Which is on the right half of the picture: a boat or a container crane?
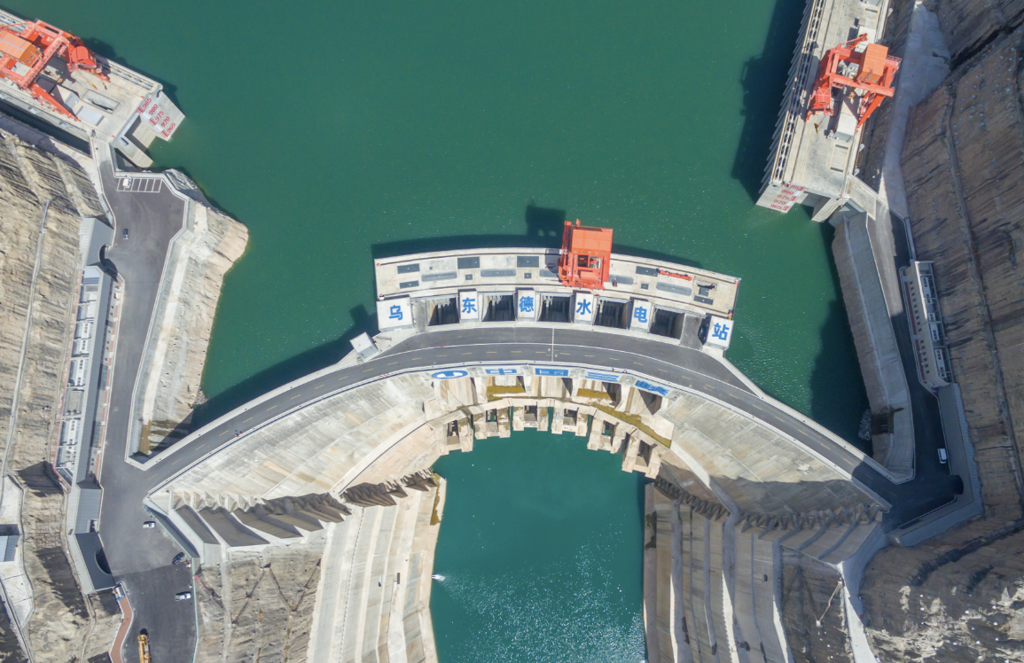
container crane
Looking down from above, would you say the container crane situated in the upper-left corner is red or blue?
red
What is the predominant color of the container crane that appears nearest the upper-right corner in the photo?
red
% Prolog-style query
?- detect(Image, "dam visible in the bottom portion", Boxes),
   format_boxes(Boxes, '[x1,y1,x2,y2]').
[140,247,900,579]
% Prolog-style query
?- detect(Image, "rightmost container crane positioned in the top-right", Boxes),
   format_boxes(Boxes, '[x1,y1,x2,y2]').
[806,27,902,131]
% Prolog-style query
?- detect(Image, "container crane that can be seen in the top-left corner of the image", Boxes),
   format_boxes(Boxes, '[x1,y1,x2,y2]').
[0,15,112,119]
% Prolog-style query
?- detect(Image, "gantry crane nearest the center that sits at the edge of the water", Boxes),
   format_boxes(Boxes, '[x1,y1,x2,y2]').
[552,223,615,290]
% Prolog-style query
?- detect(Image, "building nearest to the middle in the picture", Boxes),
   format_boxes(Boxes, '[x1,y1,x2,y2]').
[349,331,376,359]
